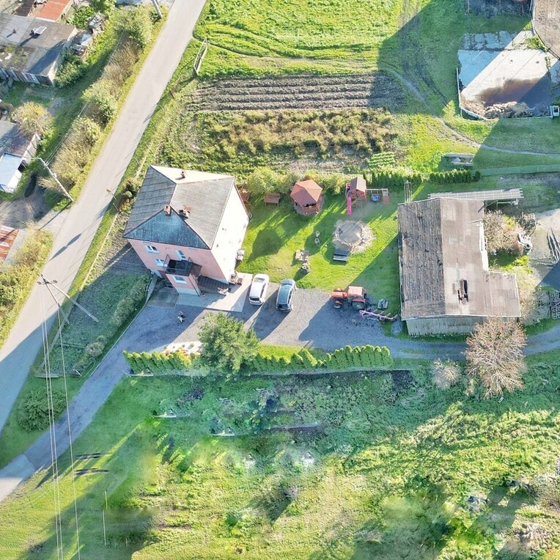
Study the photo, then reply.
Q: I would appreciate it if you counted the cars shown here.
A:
two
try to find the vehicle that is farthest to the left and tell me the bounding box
[246,276,267,305]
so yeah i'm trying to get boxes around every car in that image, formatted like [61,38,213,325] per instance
[274,281,295,311]
[246,276,267,305]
